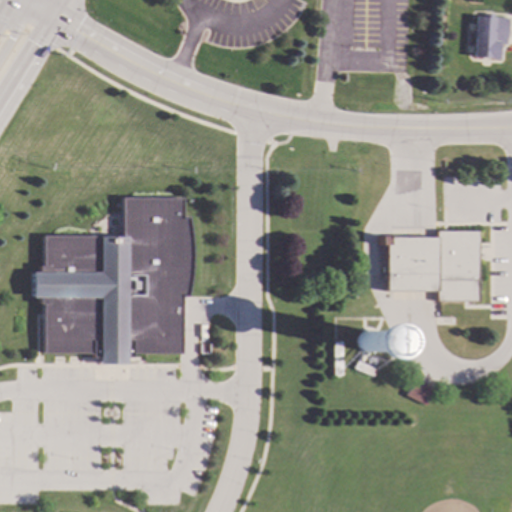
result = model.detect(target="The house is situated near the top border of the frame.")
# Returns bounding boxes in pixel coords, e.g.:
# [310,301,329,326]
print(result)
[476,13,509,58]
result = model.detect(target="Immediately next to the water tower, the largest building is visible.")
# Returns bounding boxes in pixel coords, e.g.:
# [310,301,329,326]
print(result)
[381,231,482,302]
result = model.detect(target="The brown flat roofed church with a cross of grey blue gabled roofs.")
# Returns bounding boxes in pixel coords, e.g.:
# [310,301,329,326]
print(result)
[33,198,196,363]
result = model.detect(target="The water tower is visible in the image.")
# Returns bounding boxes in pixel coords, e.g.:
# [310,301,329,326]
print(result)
[357,324,422,362]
